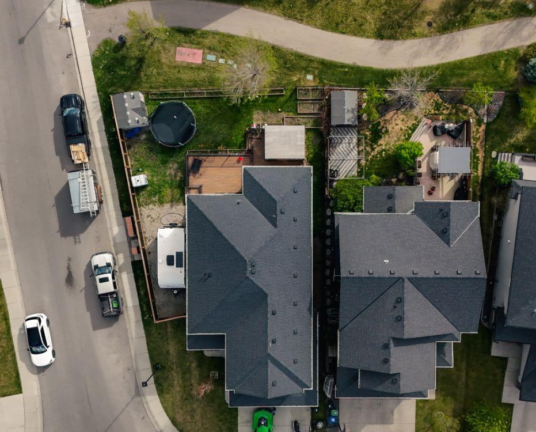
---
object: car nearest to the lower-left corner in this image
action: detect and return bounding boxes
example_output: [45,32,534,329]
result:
[25,311,57,369]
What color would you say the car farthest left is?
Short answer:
white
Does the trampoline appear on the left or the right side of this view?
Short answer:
left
